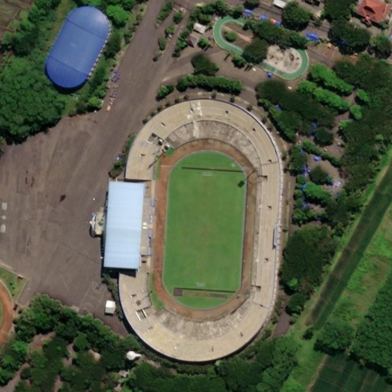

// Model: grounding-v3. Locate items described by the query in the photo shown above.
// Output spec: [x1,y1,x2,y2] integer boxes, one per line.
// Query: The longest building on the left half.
[49,5,113,88]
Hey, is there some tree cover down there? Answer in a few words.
Yes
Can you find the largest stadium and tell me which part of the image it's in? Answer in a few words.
center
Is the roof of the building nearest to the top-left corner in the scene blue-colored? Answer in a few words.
Yes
